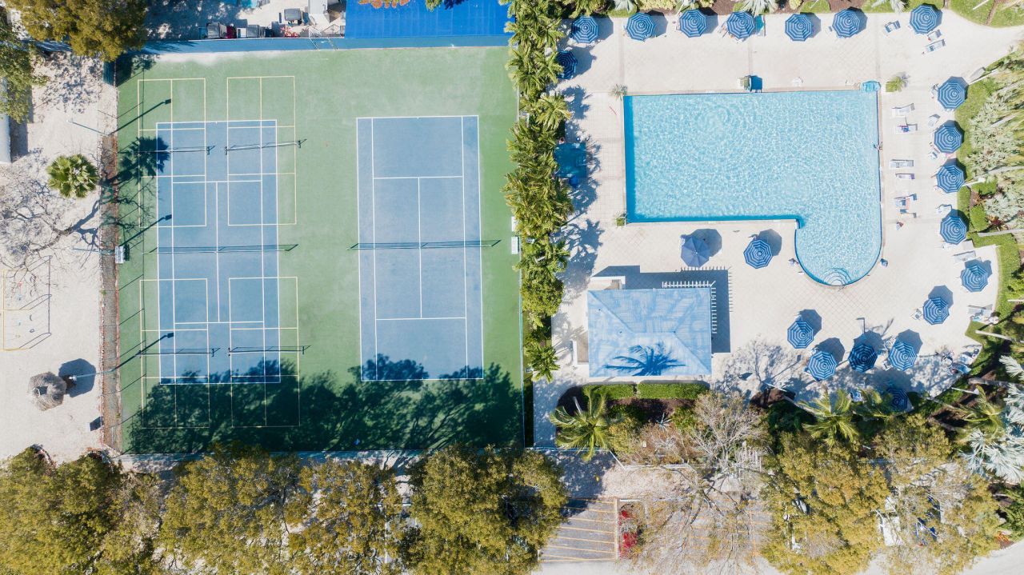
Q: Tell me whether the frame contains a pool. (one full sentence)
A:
Yes, I can see a pool in this picture.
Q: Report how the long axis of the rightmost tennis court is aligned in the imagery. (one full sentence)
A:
From this overhead view, the rightmost tennis court appears to run from top to bottom.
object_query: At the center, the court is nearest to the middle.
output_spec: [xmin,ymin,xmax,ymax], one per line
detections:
[357,116,483,381]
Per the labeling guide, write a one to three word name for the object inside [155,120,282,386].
tennis court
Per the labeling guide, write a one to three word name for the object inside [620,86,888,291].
swimming pool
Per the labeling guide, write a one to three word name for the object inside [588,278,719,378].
building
